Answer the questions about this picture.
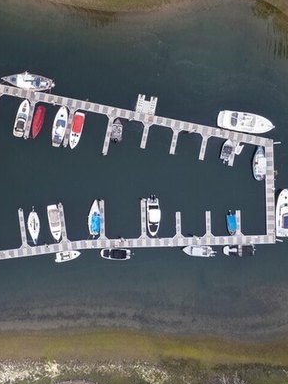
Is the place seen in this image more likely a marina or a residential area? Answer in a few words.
marina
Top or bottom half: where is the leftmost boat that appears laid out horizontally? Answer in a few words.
top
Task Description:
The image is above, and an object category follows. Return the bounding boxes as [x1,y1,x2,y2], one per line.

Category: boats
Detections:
[234,144,243,155]
[227,210,237,235]
[101,243,133,260]
[89,200,106,238]
[31,105,46,138]
[27,209,41,244]
[52,250,80,263]
[0,69,57,99]
[12,100,32,140]
[183,240,217,258]
[146,195,161,236]
[220,139,235,165]
[66,111,86,149]
[274,189,288,240]
[46,204,64,243]
[254,146,287,181]
[50,106,71,150]
[224,244,257,257]
[212,111,280,142]
[111,118,123,146]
